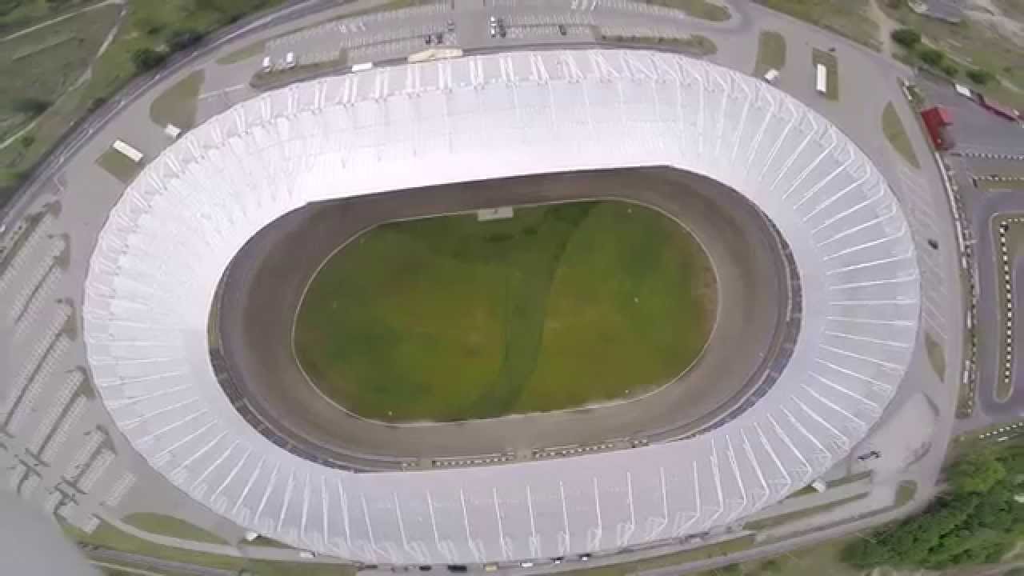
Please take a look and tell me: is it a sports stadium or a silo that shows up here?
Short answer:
sports stadium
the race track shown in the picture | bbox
[912,69,1024,418]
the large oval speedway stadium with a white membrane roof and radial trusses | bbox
[79,46,925,568]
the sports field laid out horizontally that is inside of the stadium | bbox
[293,199,719,424]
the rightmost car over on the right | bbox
[928,238,942,250]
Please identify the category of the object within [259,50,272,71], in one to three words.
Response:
vehicle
